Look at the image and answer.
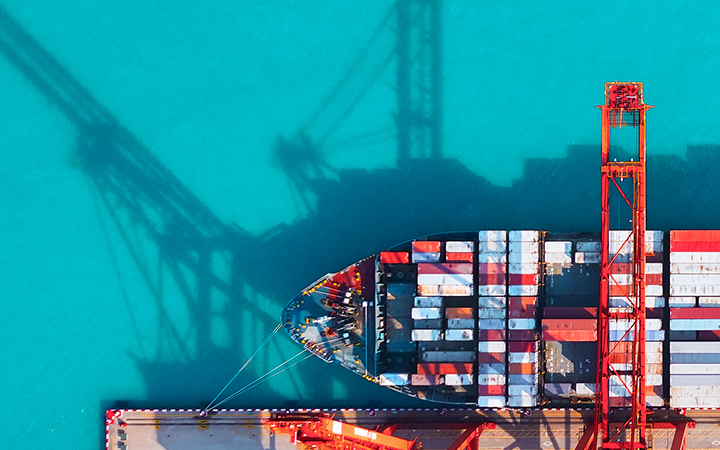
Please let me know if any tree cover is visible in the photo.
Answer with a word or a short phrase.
No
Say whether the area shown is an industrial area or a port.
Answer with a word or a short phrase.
port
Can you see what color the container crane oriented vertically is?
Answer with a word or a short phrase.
red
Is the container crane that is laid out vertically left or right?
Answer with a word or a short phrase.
right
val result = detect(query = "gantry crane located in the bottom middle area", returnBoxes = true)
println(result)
[256,413,494,450]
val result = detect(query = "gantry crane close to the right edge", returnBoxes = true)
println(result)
[567,78,699,450]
